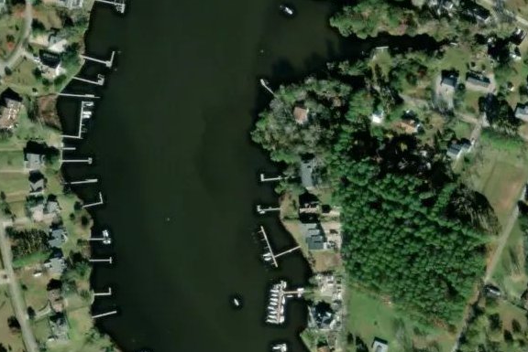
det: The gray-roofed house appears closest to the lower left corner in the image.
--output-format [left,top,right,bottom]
[48,317,69,341]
